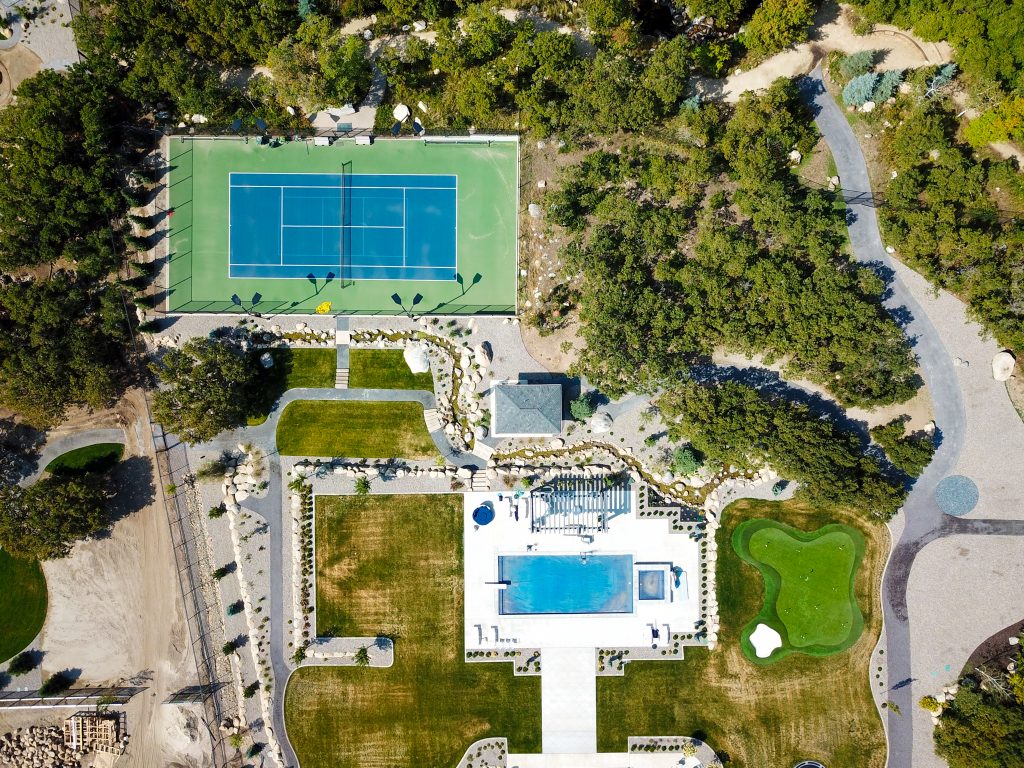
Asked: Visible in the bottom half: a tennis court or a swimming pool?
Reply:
swimming pool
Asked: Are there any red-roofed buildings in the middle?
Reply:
No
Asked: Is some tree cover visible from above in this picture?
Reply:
Yes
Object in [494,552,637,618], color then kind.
blue swimming pool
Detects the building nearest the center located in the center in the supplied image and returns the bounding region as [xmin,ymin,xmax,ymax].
[495,384,562,434]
